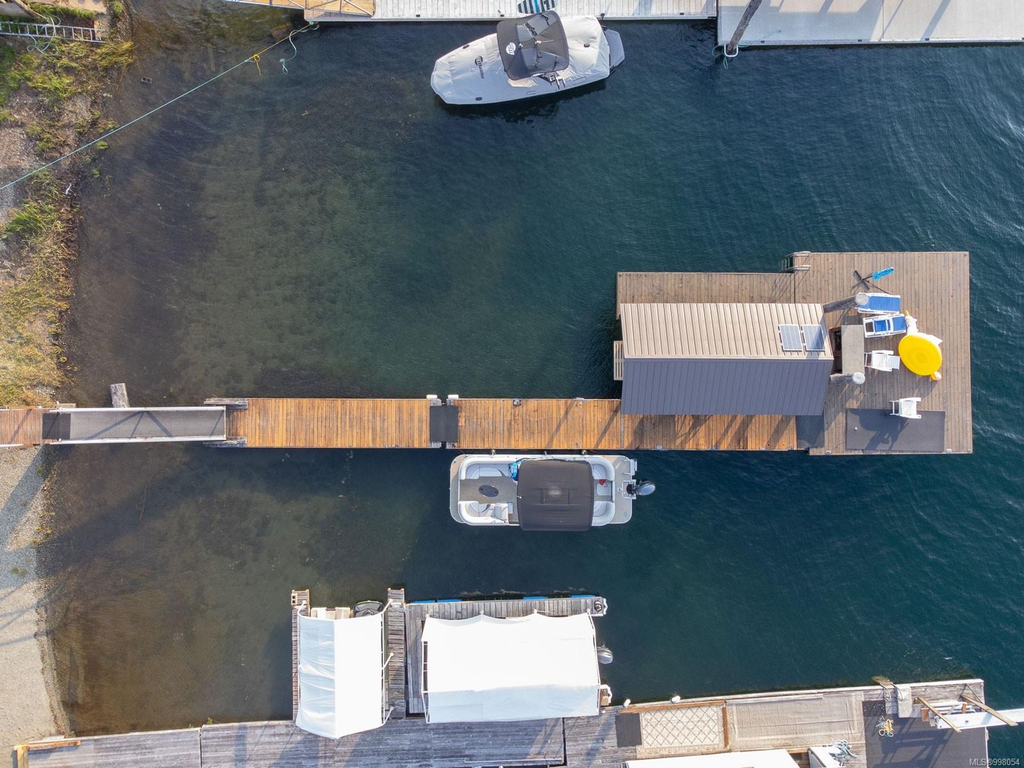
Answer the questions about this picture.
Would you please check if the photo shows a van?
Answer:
No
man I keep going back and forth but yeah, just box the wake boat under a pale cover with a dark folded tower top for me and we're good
[431,11,625,109]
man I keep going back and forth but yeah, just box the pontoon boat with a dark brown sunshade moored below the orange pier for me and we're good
[449,454,656,530]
